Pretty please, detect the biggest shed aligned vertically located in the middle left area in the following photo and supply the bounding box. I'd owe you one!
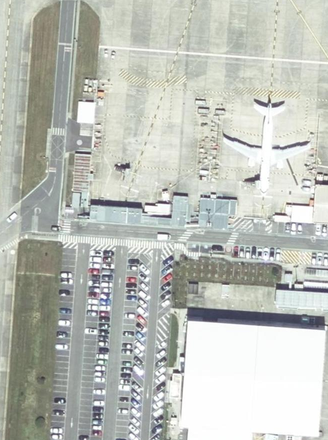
[73,155,92,192]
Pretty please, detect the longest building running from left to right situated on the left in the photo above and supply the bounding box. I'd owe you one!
[90,206,143,226]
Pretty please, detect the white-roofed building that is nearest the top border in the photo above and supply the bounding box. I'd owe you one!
[78,102,96,124]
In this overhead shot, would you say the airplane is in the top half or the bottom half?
top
